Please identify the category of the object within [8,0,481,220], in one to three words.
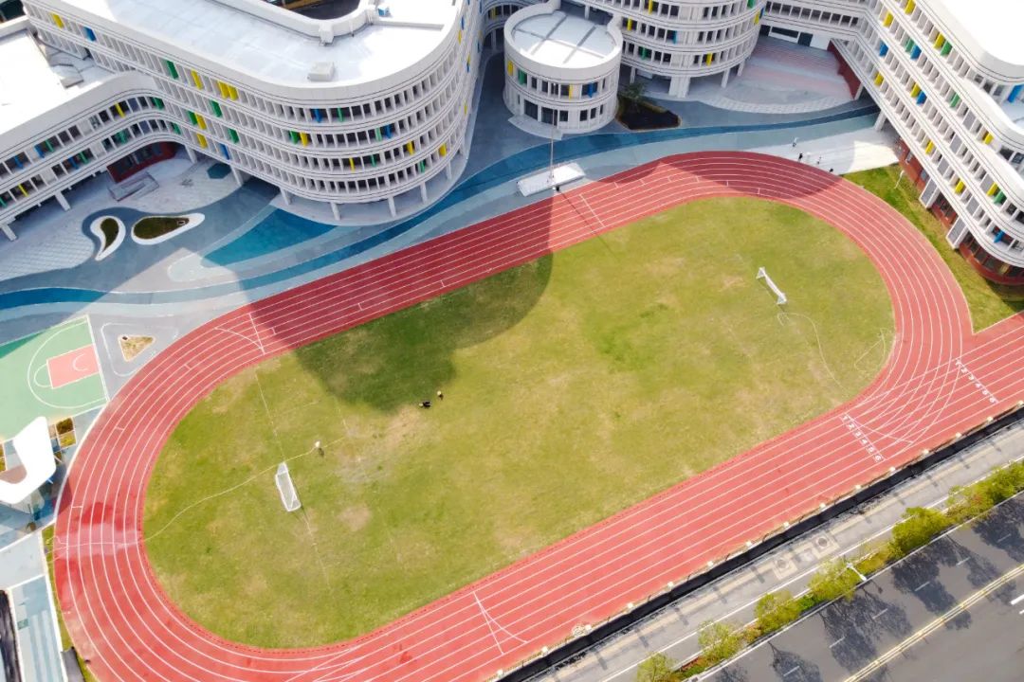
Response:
building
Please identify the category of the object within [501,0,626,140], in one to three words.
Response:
building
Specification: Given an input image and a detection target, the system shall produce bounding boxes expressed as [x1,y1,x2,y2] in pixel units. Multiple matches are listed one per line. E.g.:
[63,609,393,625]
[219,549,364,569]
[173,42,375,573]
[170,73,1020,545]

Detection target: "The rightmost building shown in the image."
[834,0,1024,288]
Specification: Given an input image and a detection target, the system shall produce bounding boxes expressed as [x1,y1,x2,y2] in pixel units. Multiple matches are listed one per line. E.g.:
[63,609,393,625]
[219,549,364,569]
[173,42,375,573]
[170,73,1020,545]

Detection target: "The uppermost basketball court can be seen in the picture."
[0,314,107,442]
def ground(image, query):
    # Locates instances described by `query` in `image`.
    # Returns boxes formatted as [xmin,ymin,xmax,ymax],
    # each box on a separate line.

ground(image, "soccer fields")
[144,196,897,651]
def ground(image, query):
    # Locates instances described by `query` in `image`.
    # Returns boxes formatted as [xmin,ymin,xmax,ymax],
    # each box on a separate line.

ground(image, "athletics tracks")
[54,151,1024,682]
